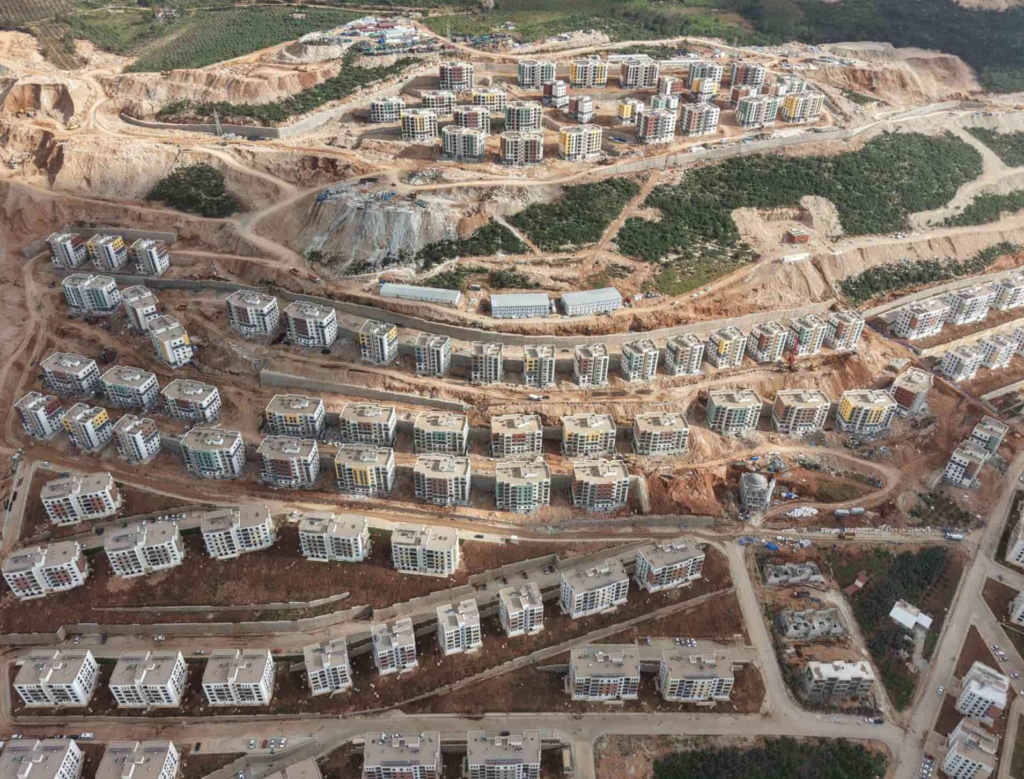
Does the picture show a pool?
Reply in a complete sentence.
No, there isn't any pool down there.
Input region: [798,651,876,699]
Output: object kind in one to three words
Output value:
building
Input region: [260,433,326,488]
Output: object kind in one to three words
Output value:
building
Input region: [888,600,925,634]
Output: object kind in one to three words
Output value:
house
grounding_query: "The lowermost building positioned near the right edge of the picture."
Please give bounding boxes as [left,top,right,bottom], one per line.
[939,722,998,779]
